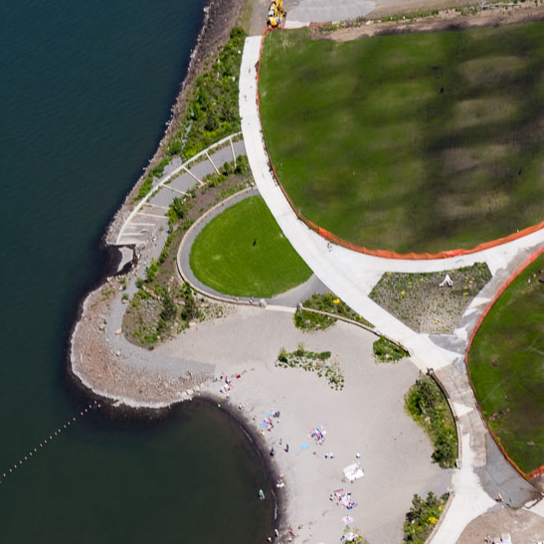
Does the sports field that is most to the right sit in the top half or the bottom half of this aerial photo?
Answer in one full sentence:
The bottom half of the photo is where the sports field that is most to the right is.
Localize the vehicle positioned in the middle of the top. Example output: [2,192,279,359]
[267,0,289,26]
